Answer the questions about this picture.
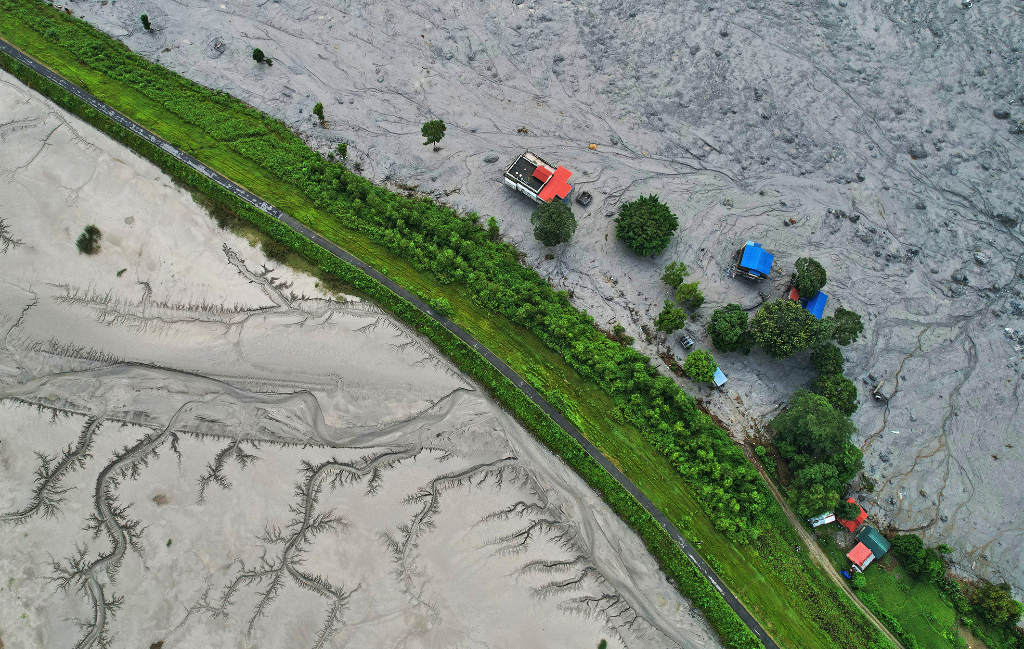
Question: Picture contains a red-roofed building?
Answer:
Yes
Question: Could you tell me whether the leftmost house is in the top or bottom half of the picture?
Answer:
top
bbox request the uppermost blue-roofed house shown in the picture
[734,241,774,283]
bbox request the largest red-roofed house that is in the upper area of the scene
[502,149,573,205]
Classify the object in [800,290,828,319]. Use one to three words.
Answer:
house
